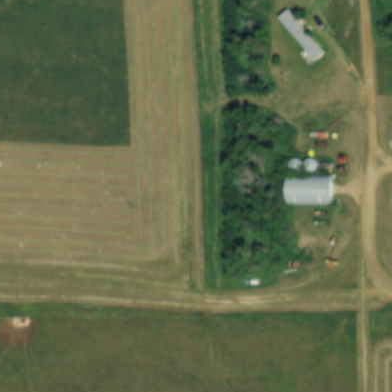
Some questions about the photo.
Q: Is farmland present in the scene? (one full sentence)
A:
Yes, there is farmland in the image.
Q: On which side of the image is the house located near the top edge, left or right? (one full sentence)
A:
The house located near the top edge appears in the right half of the scene.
